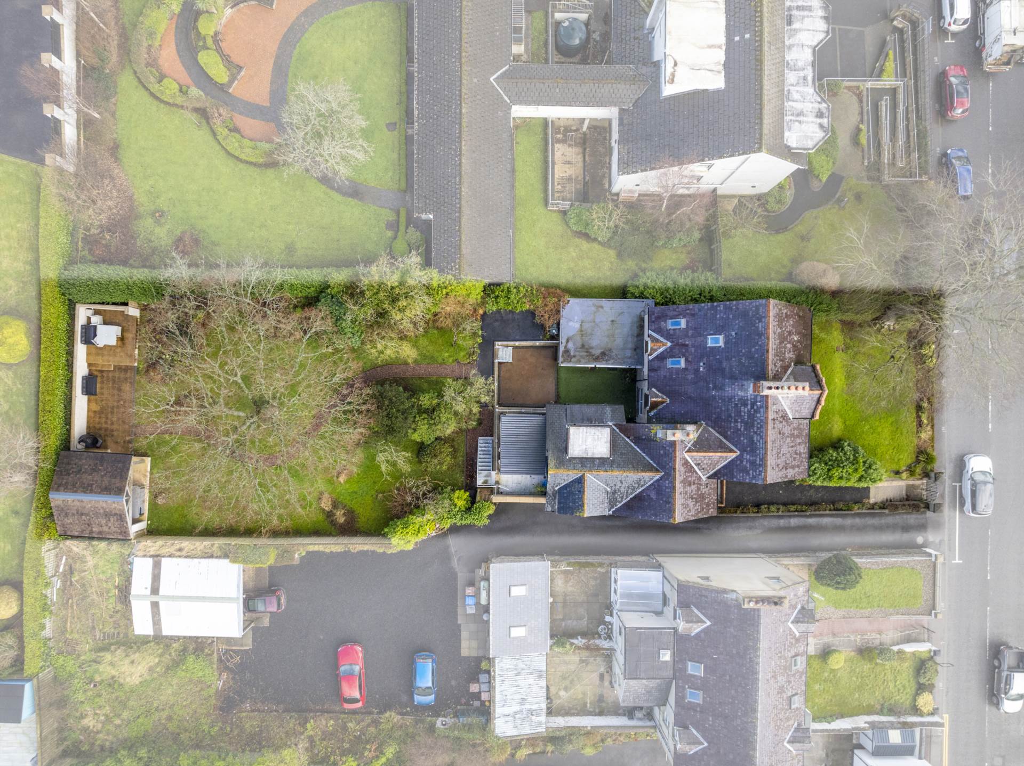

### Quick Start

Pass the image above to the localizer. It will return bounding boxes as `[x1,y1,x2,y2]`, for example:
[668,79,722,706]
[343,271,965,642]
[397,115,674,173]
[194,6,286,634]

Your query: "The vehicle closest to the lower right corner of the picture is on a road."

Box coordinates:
[988,644,1024,714]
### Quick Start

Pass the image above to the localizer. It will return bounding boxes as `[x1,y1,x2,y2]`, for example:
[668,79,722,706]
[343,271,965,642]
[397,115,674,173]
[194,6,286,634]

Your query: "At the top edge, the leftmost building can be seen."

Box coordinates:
[412,0,515,284]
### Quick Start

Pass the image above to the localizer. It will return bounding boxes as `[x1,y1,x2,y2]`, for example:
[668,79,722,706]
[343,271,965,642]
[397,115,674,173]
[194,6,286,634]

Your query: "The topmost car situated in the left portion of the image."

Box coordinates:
[243,585,284,614]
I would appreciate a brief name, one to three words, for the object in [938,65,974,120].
car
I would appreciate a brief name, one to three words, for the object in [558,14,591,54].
storage tank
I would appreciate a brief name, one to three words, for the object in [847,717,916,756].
building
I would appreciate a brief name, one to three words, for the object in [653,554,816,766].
house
